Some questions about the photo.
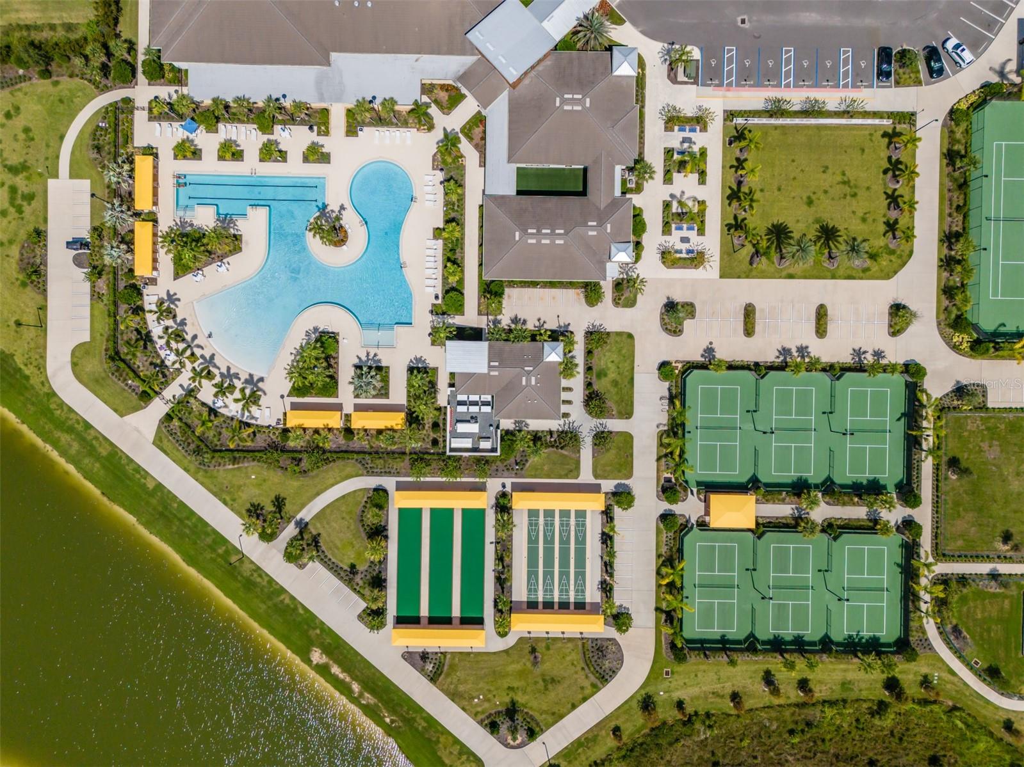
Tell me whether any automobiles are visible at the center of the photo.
No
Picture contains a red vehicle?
No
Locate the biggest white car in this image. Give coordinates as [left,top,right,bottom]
[946,38,974,69]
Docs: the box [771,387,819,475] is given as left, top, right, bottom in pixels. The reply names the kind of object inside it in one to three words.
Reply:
sports court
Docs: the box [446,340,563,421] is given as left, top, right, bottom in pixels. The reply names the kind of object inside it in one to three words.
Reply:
building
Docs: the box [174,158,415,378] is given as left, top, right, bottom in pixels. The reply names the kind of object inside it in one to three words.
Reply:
swimming pool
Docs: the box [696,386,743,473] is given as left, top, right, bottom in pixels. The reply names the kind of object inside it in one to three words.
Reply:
sports court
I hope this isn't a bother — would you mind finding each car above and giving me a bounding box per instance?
[925,44,947,77]
[879,45,897,80]
[946,38,974,69]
